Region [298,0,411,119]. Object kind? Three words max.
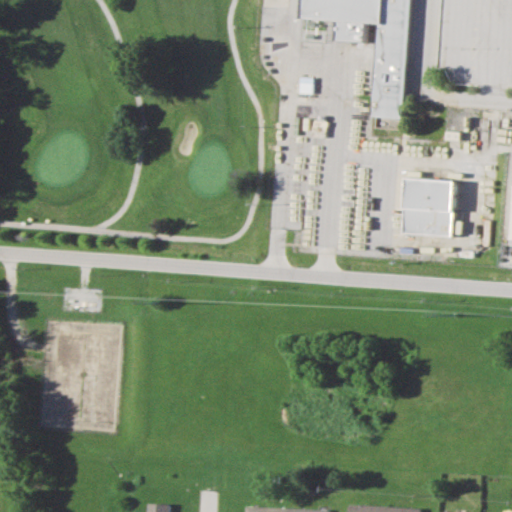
building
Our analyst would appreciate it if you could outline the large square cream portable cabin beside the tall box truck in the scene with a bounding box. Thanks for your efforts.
[311,118,330,138]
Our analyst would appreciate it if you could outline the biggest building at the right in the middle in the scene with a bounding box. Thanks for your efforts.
[401,180,454,237]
